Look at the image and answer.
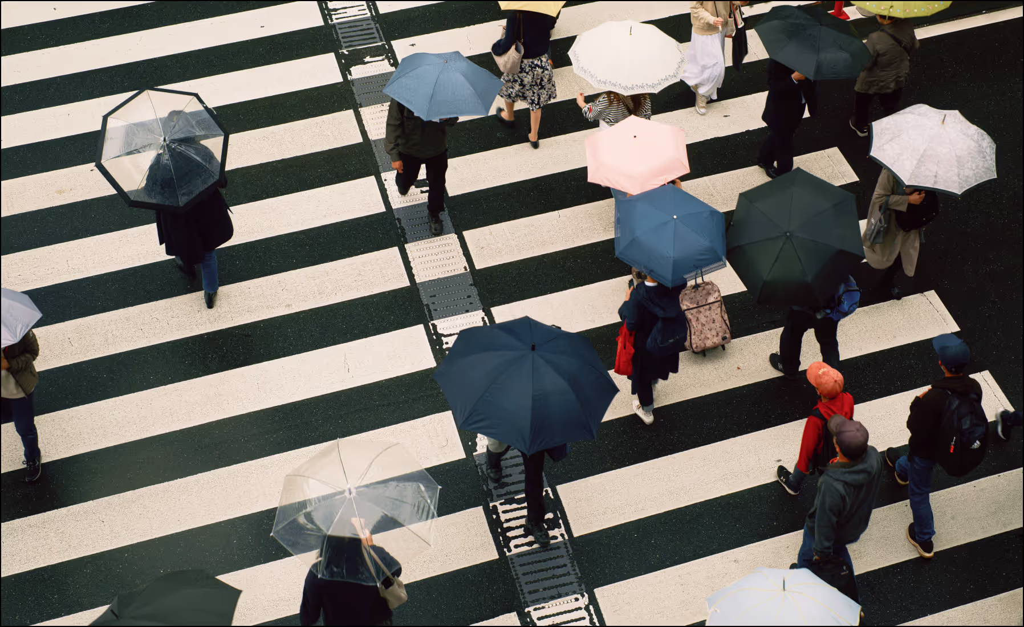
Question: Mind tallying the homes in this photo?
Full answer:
No homes are visible.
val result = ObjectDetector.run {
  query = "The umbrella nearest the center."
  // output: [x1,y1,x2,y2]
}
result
[431,314,619,456]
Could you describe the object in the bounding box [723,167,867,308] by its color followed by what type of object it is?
black umbrella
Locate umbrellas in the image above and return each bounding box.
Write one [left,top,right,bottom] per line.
[614,182,727,287]
[431,314,619,456]
[754,6,874,90]
[695,563,870,627]
[0,288,45,346]
[723,167,867,308]
[95,86,231,213]
[583,115,688,196]
[381,50,504,133]
[500,0,562,17]
[870,102,999,207]
[852,0,949,31]
[568,18,687,95]
[82,568,241,627]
